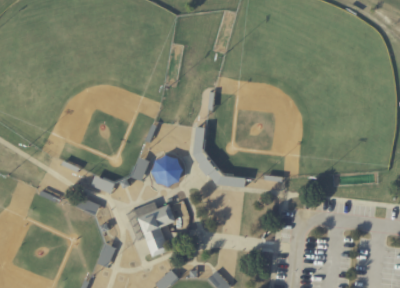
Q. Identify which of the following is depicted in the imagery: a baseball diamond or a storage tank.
baseball diamond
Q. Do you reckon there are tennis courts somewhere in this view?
No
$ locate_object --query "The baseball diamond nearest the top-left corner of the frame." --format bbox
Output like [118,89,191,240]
[0,0,176,180]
